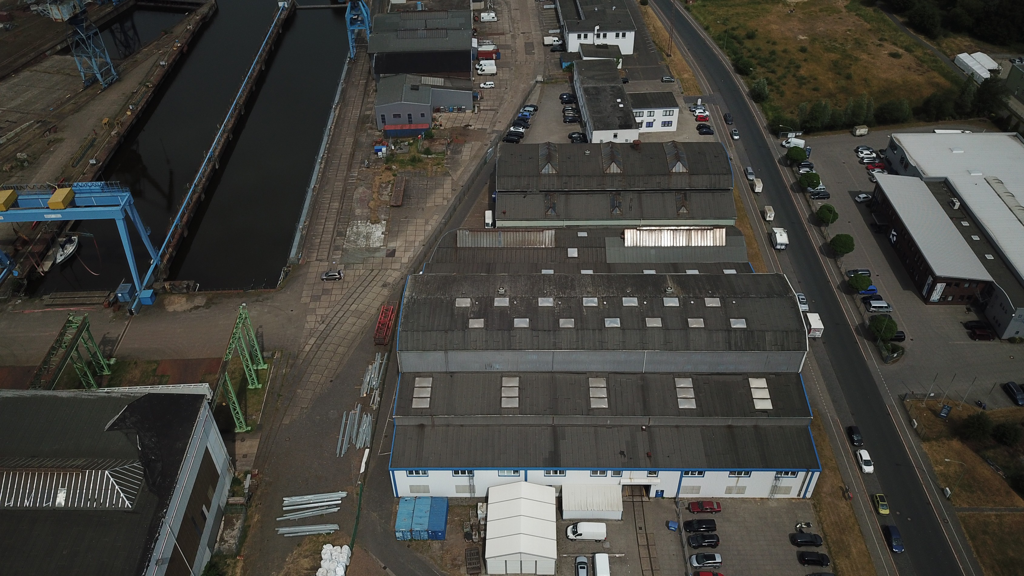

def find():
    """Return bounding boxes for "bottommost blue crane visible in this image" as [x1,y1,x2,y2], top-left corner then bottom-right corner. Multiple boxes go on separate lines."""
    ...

[0,175,163,298]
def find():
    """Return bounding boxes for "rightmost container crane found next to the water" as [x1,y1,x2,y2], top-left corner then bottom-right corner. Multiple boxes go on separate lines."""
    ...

[344,0,383,62]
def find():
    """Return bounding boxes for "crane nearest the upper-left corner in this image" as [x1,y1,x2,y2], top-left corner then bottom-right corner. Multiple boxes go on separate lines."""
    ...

[32,0,117,90]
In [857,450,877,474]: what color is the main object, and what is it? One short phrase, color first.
white car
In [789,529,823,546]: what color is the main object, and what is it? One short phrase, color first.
black car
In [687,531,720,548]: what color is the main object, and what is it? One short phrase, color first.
black car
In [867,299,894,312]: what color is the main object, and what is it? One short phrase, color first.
gray vehicle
